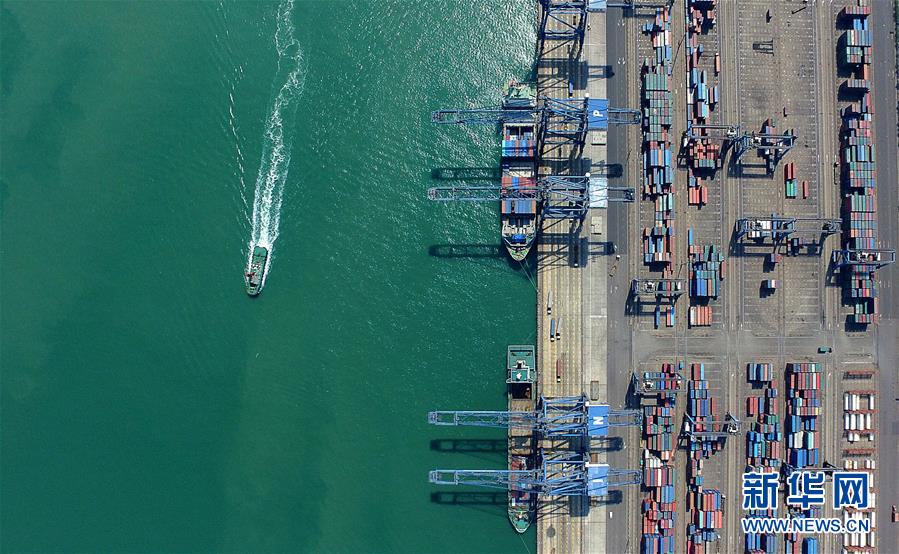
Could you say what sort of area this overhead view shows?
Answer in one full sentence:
It's a port.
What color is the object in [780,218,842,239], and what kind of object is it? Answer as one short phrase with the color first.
gray container crane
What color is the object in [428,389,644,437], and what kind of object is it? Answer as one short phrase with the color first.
blue container crane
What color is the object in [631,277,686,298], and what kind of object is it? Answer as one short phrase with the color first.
gray container crane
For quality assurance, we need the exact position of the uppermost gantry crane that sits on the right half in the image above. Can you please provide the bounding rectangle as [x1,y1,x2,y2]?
[539,0,637,44]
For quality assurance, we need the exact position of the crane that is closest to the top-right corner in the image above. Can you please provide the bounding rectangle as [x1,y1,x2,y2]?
[732,133,792,160]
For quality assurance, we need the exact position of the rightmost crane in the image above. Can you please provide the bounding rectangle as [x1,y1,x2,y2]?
[830,248,895,269]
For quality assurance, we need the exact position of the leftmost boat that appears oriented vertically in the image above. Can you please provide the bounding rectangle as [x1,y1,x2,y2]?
[244,248,270,295]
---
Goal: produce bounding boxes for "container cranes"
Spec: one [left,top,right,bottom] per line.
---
[830,248,895,269]
[428,389,644,437]
[732,133,792,160]
[429,442,644,498]
[430,94,642,151]
[631,277,686,298]
[630,368,684,391]
[780,218,842,239]
[427,172,637,221]
[539,0,637,44]
[683,411,740,435]
[680,125,737,151]
[734,218,795,239]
